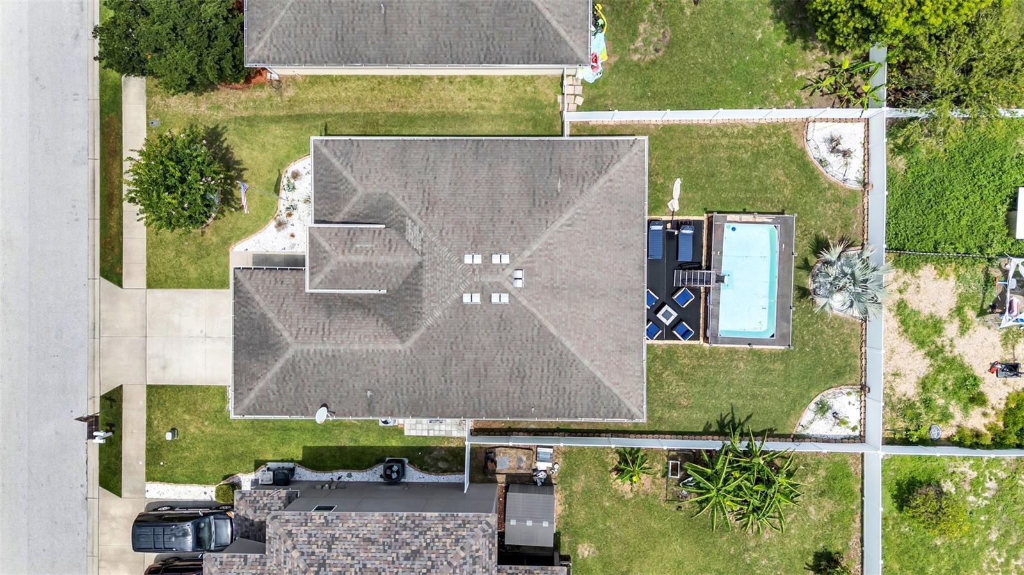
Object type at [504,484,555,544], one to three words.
shed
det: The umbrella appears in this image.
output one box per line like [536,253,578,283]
[668,178,681,229]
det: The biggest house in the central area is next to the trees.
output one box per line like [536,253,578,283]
[231,137,647,420]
